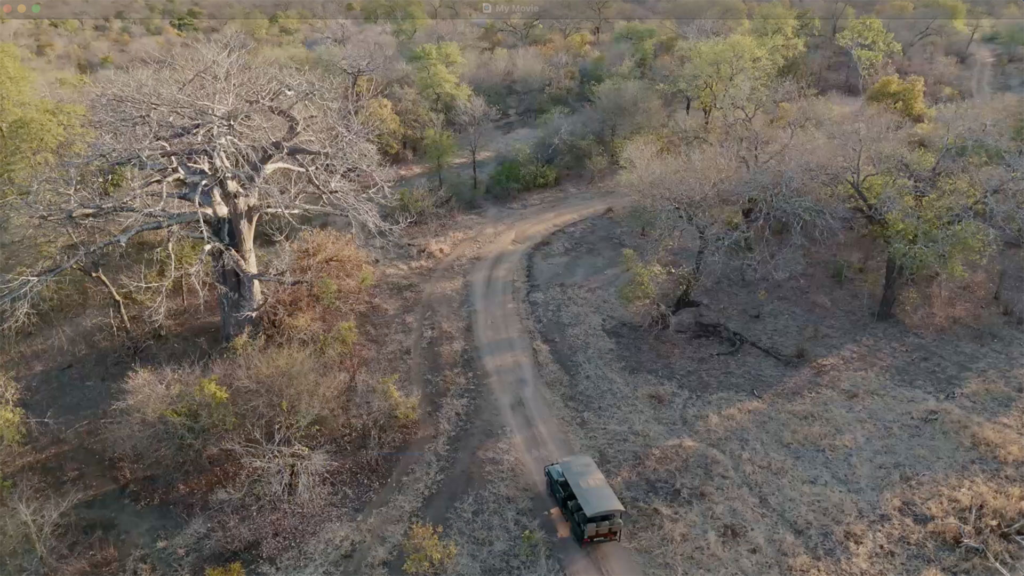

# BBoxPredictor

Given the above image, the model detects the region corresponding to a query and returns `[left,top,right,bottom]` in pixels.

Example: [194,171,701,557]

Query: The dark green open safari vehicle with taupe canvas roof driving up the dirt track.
[547,451,624,547]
